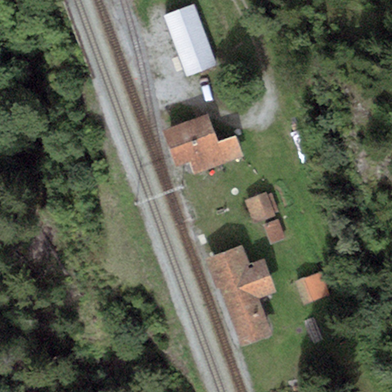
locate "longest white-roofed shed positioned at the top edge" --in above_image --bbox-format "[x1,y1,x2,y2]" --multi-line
[164,4,216,77]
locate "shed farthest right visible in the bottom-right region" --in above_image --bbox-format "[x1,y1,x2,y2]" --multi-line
[294,272,329,306]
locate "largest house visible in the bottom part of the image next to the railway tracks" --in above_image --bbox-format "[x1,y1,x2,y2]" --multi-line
[205,246,276,348]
